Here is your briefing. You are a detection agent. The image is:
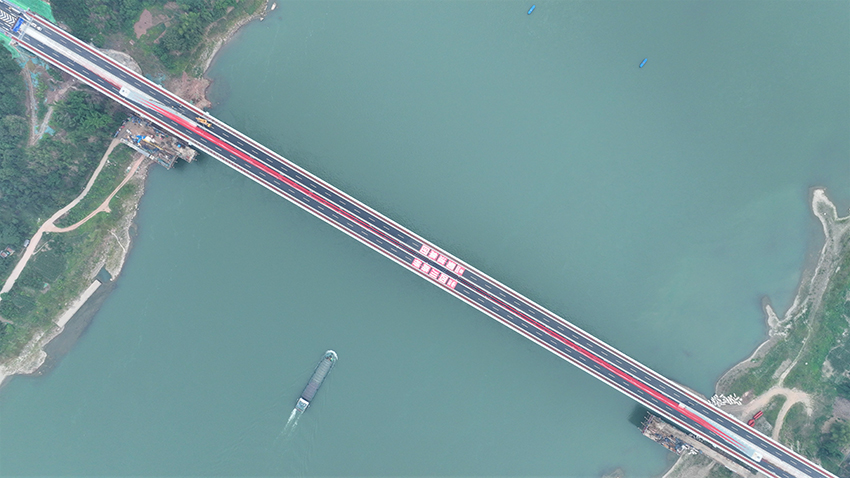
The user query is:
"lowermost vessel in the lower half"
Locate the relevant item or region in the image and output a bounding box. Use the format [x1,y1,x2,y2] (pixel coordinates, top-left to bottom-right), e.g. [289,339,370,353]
[294,350,335,414]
